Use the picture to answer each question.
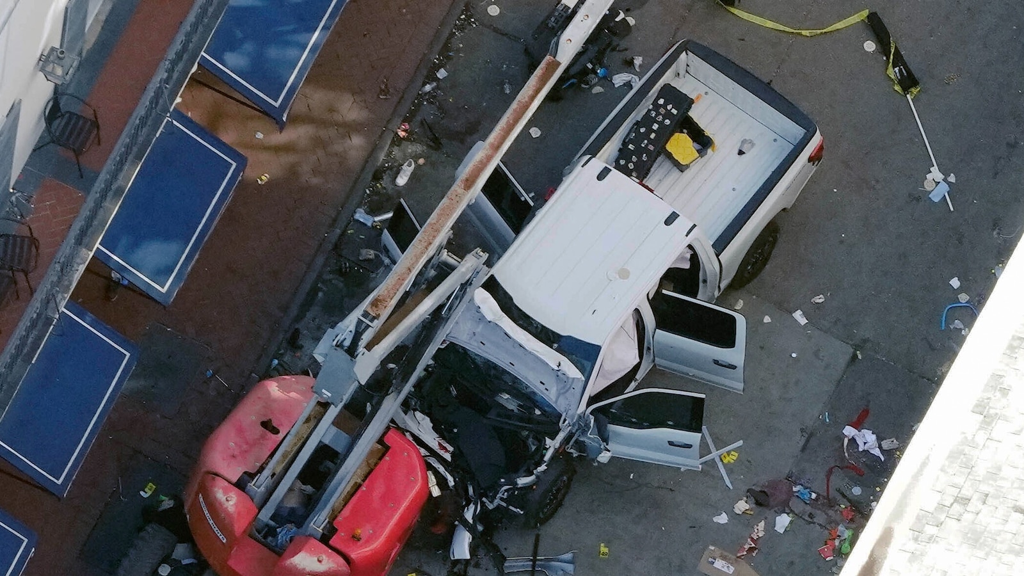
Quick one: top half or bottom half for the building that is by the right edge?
bottom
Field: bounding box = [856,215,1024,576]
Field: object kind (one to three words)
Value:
building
